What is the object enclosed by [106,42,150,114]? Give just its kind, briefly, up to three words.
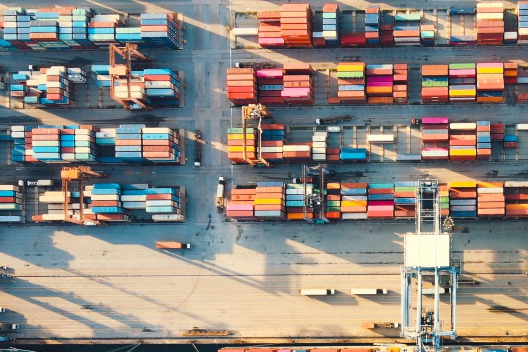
crane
